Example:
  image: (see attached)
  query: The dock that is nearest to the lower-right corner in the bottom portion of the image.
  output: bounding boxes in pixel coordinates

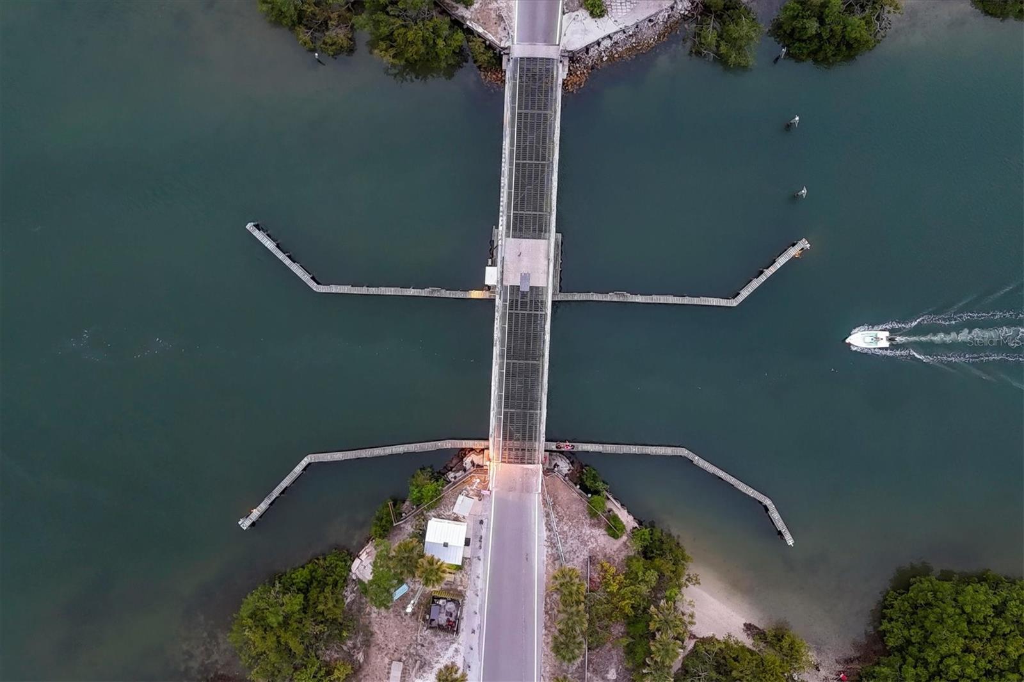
[547,441,794,546]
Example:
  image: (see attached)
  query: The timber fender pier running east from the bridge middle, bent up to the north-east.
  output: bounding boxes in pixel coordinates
[554,240,808,306]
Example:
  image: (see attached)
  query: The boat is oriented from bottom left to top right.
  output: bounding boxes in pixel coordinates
[393,584,411,601]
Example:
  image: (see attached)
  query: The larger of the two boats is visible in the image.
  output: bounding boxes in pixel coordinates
[846,332,895,347]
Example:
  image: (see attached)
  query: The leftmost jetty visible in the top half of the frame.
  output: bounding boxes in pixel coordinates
[248,223,494,300]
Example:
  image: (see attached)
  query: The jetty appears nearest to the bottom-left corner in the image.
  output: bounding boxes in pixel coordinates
[239,438,488,527]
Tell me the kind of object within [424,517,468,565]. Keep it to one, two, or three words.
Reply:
house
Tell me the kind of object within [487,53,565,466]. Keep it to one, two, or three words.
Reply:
bridge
